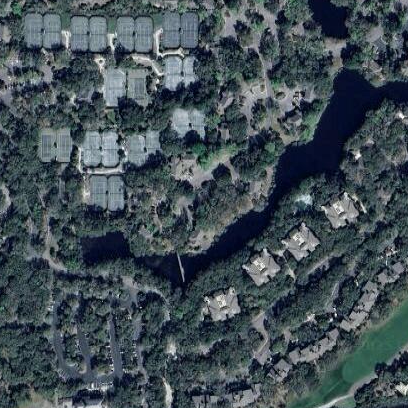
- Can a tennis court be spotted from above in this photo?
Yes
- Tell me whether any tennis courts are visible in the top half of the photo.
Yes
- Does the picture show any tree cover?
Yes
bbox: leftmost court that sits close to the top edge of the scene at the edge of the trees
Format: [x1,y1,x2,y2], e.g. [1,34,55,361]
[24,13,43,49]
